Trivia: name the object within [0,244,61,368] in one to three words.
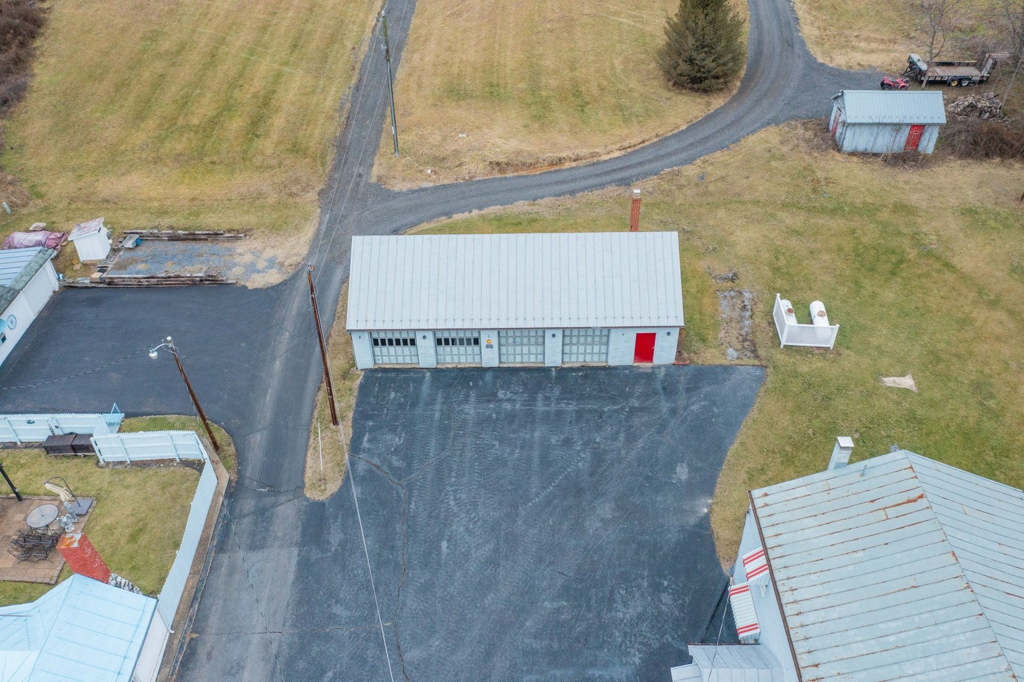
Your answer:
building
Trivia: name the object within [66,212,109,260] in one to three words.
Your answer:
shed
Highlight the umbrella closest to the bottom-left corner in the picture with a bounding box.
[28,471,93,515]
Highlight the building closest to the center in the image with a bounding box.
[347,189,684,369]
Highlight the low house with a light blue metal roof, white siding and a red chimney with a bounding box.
[0,531,171,682]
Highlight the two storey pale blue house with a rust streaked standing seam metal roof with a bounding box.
[674,435,1024,682]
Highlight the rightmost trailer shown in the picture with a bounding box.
[900,44,1001,84]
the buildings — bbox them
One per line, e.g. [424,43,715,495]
[825,90,949,152]
[0,244,61,368]
[66,212,109,260]
[674,435,1024,682]
[347,189,684,369]
[0,531,171,682]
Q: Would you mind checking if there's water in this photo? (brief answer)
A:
No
